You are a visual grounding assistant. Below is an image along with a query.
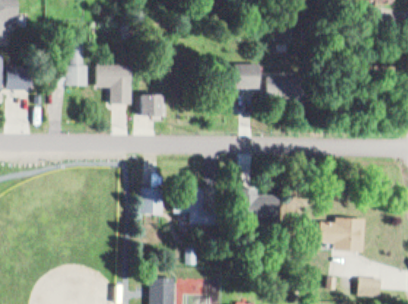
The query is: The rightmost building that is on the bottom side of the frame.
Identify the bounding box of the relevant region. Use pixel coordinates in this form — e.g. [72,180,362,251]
[358,276,381,297]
